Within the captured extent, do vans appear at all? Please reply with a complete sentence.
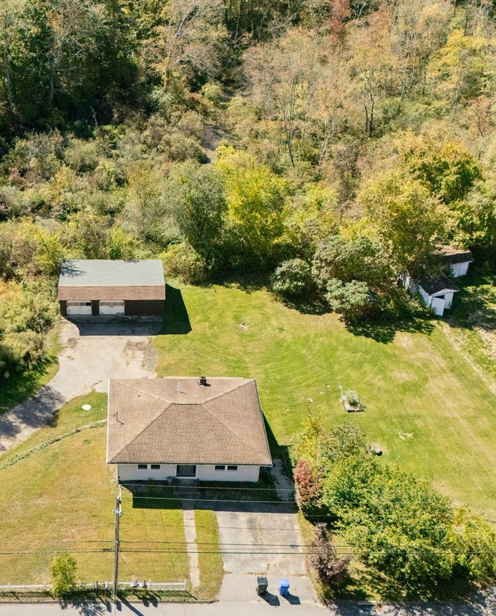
No, the picture doesn't show any van.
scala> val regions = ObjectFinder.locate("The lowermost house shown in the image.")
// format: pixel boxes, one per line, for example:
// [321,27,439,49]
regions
[104,375,273,497]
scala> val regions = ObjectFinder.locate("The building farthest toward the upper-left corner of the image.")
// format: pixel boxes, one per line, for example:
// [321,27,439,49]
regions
[58,260,166,317]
